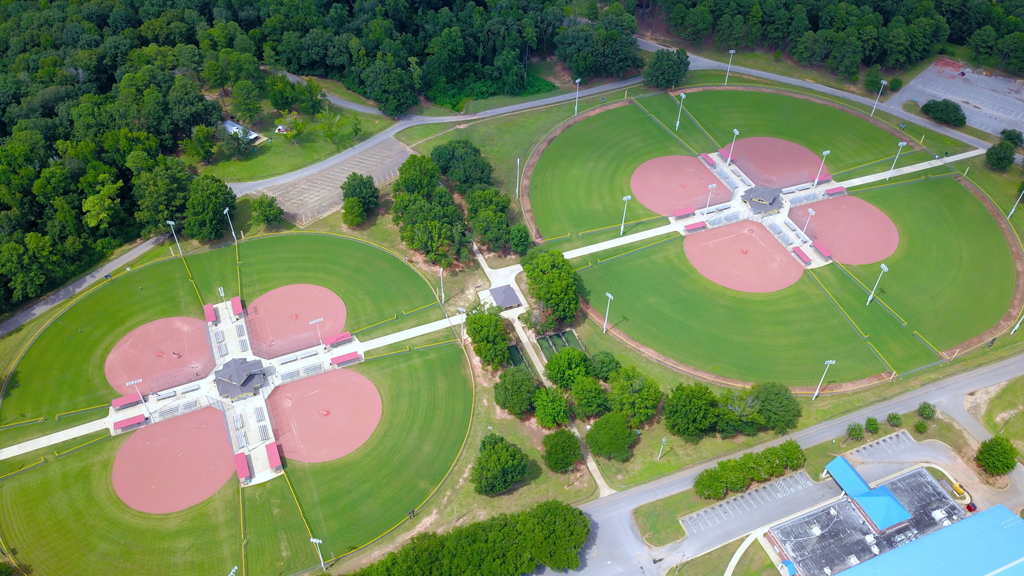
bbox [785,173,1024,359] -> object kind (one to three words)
baseball field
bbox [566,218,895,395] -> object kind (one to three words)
baseball field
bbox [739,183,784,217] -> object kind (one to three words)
building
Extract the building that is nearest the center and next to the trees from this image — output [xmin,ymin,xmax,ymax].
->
[491,284,521,313]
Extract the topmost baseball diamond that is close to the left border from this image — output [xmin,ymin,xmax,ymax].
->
[0,254,220,428]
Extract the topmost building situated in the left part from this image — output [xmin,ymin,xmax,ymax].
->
[221,120,266,148]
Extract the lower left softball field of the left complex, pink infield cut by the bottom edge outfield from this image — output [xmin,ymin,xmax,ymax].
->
[0,403,248,576]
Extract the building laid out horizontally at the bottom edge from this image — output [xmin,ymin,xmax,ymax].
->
[765,458,1024,576]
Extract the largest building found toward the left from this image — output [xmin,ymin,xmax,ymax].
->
[211,353,267,401]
